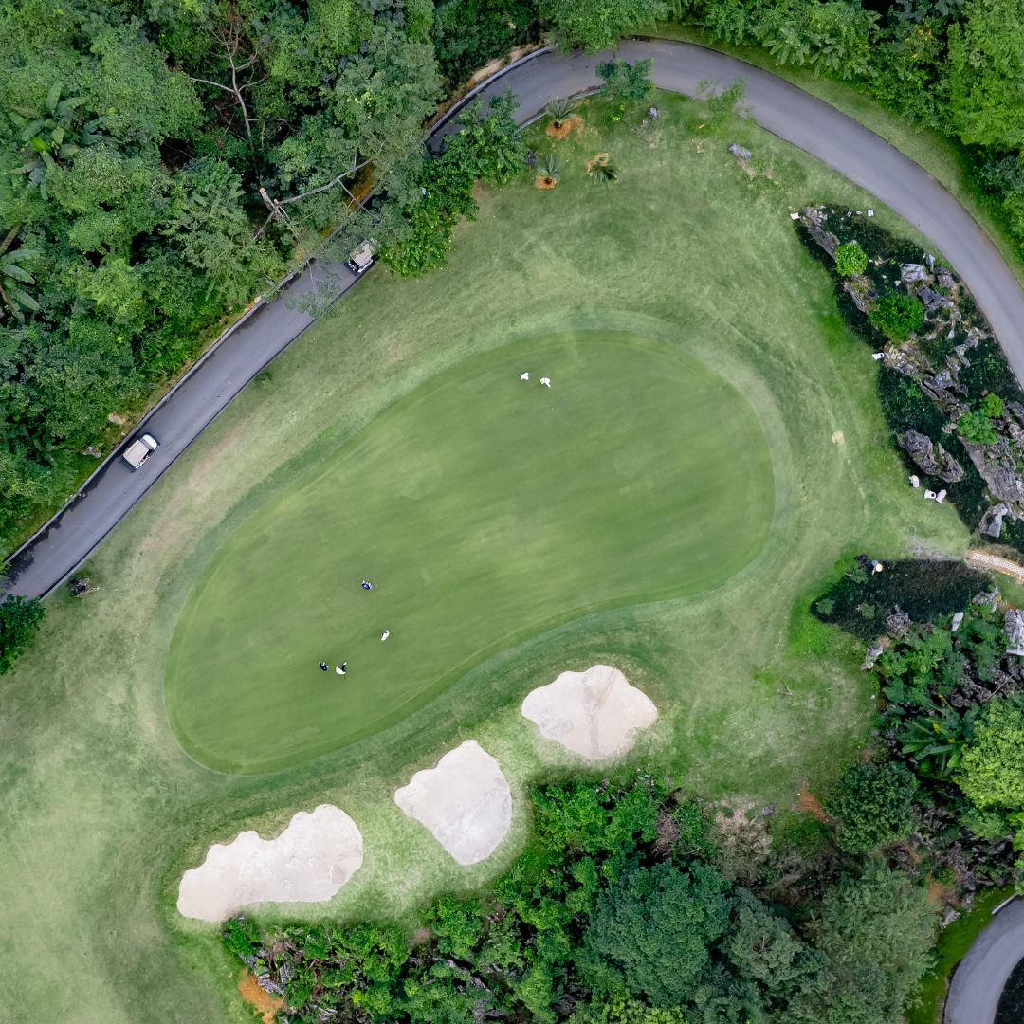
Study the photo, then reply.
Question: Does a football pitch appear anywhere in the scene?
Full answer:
No, I can see no football pitch in this picture.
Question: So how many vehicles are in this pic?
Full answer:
I count 2 vehicles.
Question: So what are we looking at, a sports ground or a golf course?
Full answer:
This image shows a golf course.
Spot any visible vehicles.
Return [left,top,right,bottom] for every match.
[122,435,159,468]
[346,241,379,276]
